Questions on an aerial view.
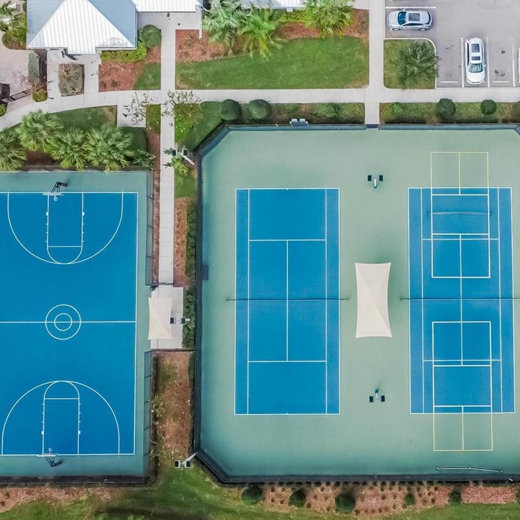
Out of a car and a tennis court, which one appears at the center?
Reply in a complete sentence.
Visible at the center is a tennis court.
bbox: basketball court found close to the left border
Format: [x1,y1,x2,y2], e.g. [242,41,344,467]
[0,172,153,478]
